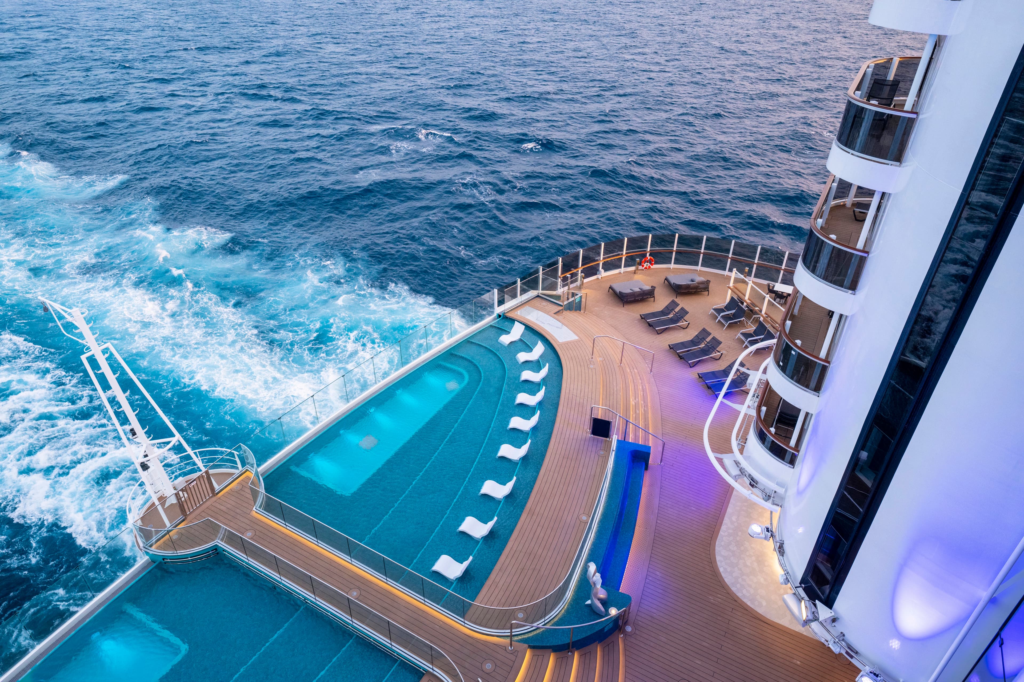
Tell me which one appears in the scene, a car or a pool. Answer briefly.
pool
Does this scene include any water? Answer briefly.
Yes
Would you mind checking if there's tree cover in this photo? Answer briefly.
No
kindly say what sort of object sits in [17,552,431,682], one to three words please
swimming pool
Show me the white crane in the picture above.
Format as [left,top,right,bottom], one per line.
[37,296,217,525]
